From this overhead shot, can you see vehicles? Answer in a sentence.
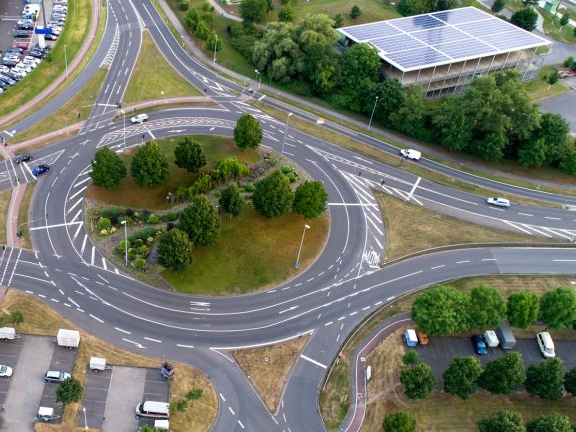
Yes, looking at the shot, I can spot a vehicle.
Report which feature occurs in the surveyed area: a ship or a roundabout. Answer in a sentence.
The image shows a roundabout.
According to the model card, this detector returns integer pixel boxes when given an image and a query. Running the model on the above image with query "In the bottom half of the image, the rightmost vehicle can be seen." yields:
[537,329,555,356]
